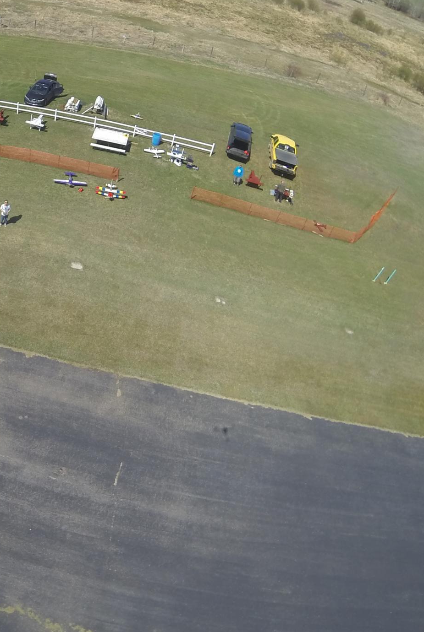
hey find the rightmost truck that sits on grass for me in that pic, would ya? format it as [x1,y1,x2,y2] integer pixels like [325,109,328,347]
[266,136,297,176]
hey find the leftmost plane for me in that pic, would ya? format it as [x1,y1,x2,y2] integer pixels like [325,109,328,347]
[55,167,88,188]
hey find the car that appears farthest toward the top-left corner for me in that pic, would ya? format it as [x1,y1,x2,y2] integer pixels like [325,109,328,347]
[25,72,63,107]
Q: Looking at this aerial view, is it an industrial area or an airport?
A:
airport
